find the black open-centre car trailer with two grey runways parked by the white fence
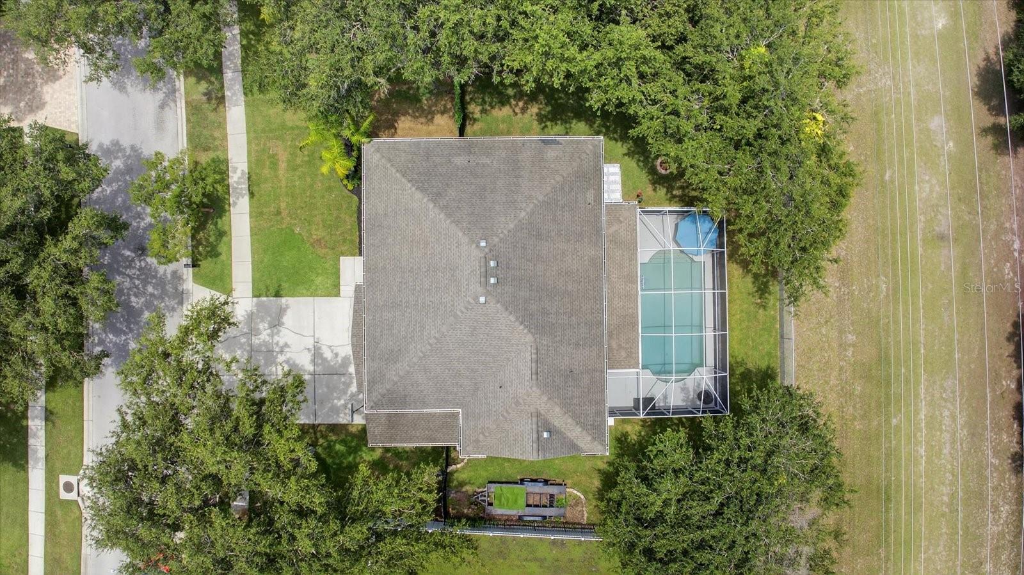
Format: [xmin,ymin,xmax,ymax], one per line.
[471,476,567,523]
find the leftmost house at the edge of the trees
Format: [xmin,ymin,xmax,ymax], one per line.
[351,133,644,464]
